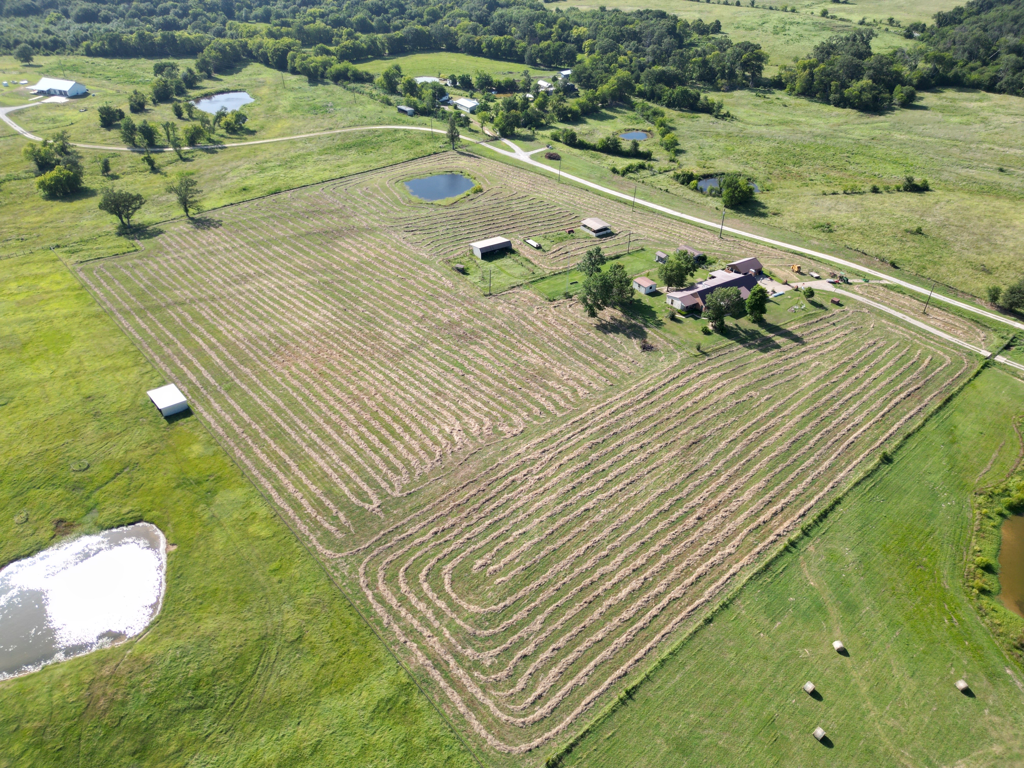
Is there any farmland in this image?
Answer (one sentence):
Yes, the picture does contain farmland.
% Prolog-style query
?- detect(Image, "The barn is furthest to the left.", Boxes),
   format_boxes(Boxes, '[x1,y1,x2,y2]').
[21,81,89,97]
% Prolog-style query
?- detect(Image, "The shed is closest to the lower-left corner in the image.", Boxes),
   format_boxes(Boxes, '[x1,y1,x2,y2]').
[144,380,189,418]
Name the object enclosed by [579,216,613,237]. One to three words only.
barn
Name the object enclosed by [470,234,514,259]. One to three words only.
barn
